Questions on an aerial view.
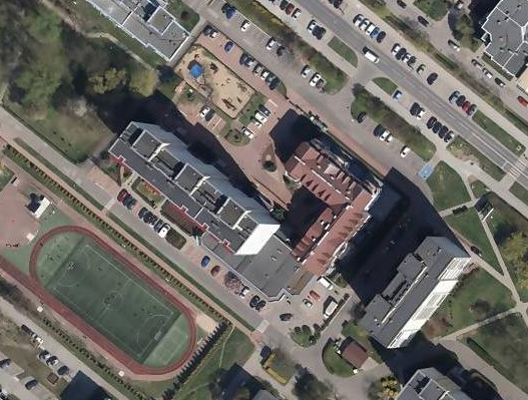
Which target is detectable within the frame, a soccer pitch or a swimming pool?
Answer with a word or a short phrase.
soccer pitch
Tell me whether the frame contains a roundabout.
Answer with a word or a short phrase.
No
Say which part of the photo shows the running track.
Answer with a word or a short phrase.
bottom left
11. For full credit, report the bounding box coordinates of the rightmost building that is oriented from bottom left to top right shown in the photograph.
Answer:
[359,231,468,346]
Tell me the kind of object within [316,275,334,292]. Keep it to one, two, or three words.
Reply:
vehicle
